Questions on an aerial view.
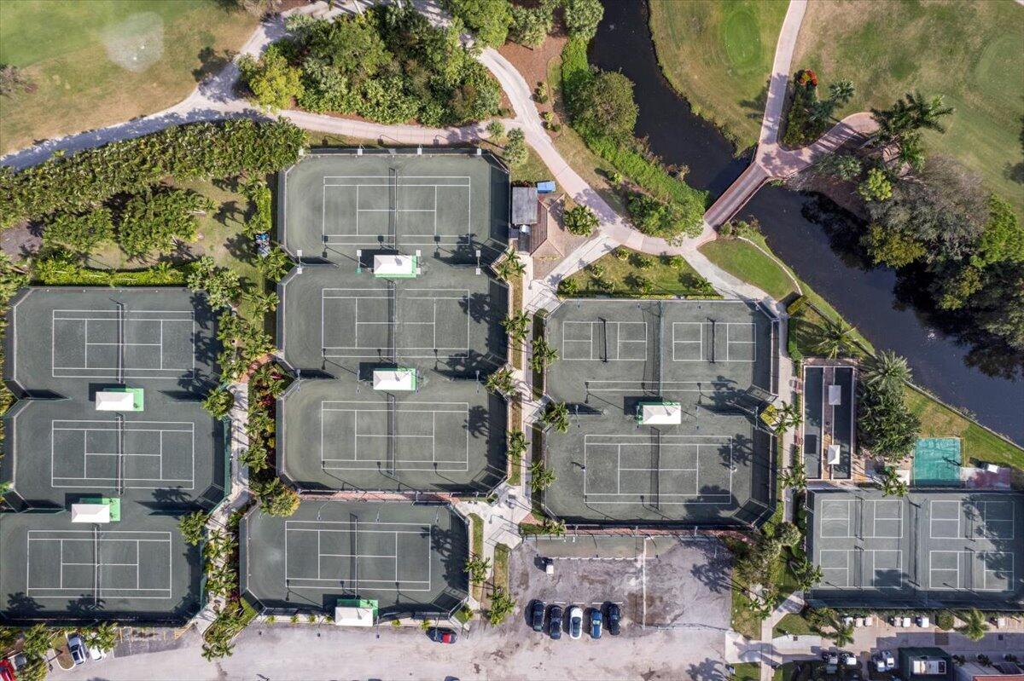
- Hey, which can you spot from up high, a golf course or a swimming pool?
golf course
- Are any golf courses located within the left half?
Yes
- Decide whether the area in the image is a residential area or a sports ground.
sports ground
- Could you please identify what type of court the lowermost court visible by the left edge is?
tennis court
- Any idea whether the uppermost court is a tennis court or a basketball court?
tennis court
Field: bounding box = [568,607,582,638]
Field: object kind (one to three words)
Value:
car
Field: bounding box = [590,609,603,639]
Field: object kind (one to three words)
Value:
vehicle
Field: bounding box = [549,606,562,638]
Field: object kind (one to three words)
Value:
vehicle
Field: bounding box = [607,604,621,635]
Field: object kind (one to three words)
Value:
car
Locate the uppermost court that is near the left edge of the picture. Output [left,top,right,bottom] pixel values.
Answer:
[16,289,225,399]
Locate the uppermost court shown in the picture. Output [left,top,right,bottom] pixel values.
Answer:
[286,155,507,265]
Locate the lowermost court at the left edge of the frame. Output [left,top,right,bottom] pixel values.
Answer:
[2,509,207,619]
